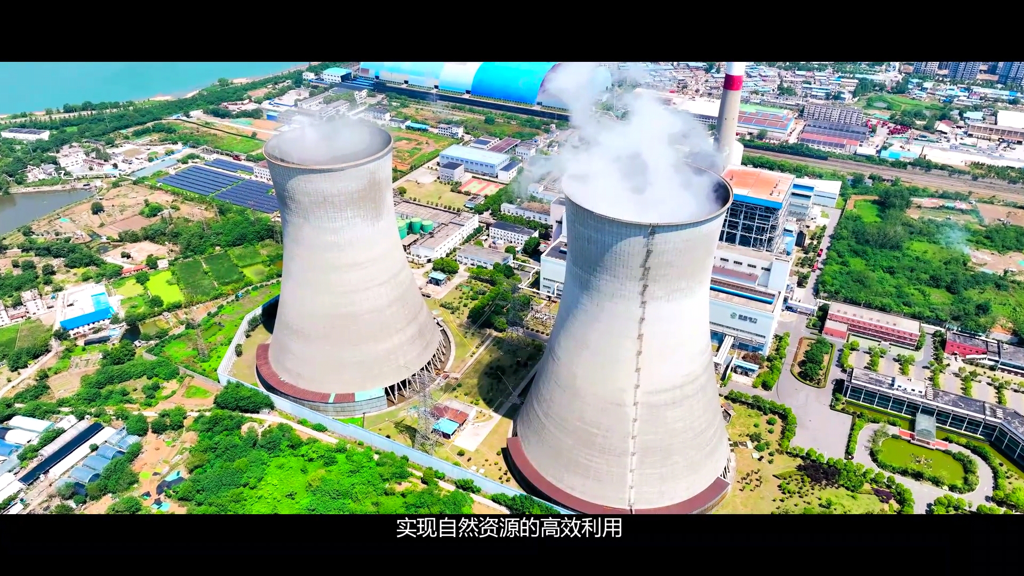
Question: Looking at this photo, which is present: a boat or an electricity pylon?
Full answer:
Looking from above, you can make out an electricity pylon.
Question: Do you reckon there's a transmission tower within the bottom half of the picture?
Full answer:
Yes, I can see a transmission tower within the bottom half of the picture.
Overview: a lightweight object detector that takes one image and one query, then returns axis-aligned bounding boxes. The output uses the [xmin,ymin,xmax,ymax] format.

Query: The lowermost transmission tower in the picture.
[403,377,444,455]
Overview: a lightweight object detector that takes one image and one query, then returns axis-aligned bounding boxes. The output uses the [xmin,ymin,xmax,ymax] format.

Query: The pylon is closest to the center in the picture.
[500,292,526,352]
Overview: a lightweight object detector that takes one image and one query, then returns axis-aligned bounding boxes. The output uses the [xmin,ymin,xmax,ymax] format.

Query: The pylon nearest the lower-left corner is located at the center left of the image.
[180,306,217,365]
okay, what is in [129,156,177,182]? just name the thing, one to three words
shed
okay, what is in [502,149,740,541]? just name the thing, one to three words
cooling tower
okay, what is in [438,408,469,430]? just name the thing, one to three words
house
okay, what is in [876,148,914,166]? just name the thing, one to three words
building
